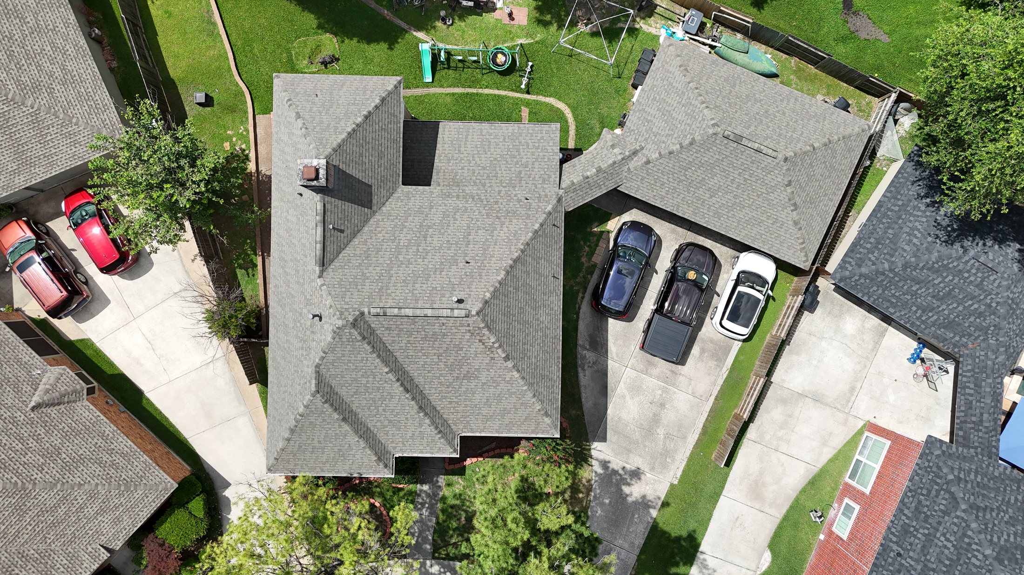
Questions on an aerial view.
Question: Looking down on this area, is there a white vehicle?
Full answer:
Yes, the frame does contain a white vehicle.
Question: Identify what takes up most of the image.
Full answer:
What you mostly see from above here is buildings.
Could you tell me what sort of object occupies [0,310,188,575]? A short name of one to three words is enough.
house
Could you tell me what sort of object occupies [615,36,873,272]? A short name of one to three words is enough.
building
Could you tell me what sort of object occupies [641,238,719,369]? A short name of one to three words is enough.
truck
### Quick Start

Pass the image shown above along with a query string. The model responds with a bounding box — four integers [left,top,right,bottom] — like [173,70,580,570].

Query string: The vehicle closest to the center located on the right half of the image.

[591,216,658,324]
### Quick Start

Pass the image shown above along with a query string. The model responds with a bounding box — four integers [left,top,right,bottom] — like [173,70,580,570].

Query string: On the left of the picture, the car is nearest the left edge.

[0,213,87,319]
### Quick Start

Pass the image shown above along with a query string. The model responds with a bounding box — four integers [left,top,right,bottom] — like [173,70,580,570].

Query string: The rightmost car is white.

[713,248,780,347]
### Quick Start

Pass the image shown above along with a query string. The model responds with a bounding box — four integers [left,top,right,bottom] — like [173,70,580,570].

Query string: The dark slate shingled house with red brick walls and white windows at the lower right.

[810,426,1024,575]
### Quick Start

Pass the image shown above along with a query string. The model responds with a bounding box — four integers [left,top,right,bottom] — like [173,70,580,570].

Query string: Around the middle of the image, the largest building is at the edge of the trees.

[264,72,567,478]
